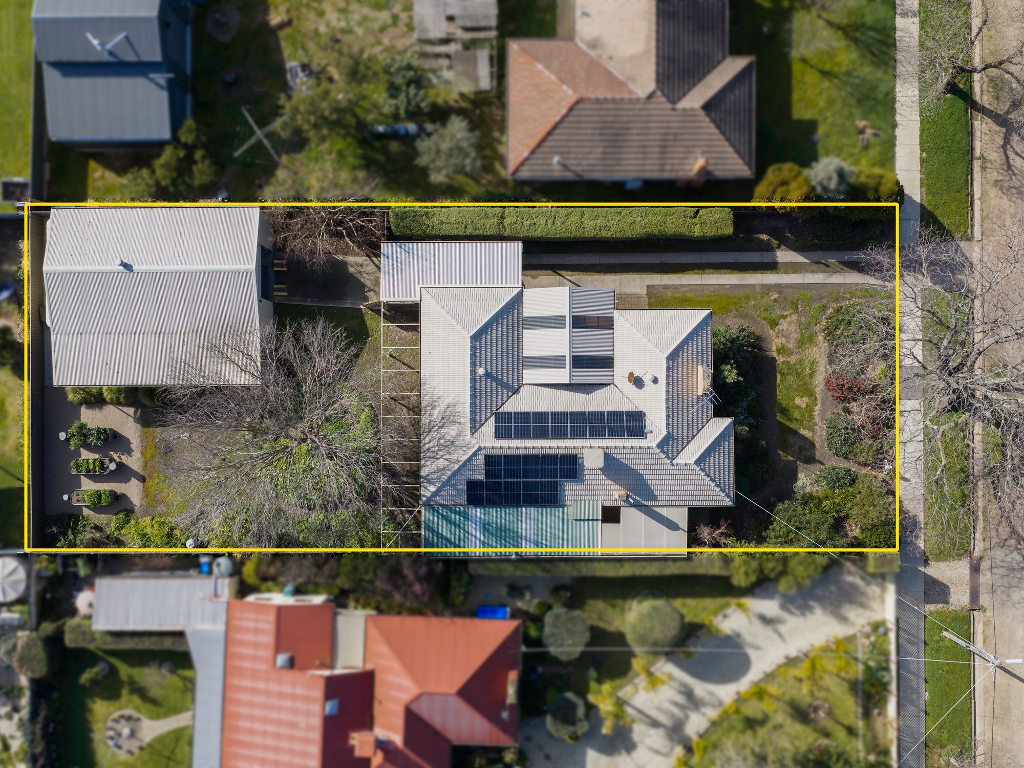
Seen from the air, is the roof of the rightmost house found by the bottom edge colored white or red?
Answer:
red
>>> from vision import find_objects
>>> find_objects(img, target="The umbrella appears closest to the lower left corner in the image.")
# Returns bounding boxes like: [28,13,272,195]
[0,558,29,598]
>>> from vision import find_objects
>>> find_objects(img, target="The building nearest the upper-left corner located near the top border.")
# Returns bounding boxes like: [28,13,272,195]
[32,0,191,152]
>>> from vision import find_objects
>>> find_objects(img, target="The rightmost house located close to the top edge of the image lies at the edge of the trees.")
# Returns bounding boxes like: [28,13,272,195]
[504,0,758,181]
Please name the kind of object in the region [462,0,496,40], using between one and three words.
shed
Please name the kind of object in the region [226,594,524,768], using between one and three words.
house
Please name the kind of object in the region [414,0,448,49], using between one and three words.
shed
